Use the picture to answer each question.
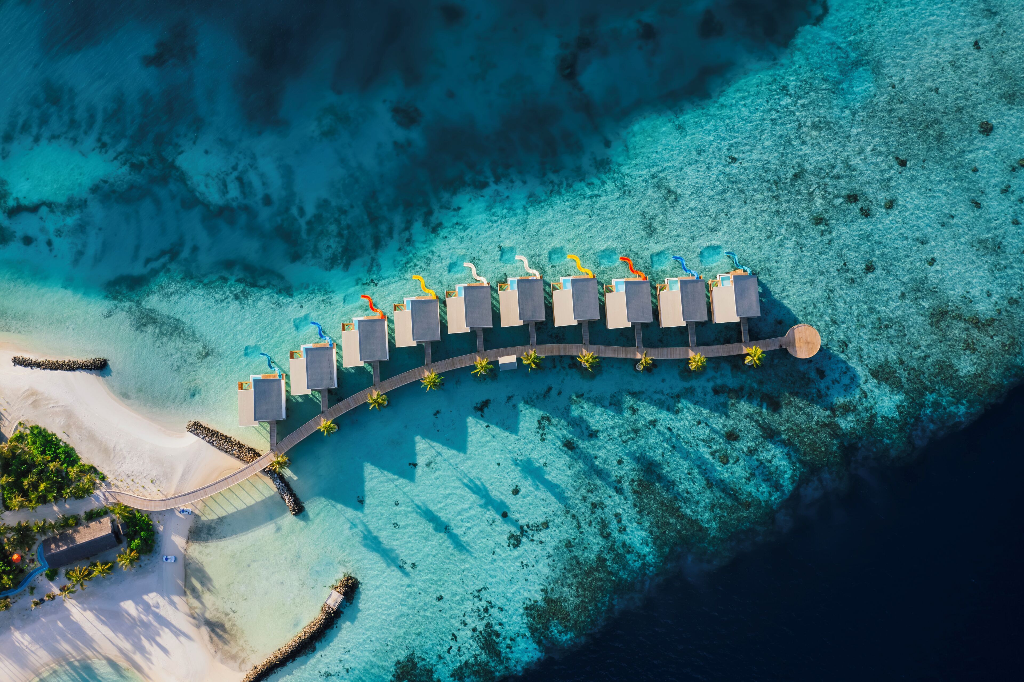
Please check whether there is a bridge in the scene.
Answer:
No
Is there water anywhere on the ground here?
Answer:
Yes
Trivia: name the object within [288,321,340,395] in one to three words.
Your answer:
house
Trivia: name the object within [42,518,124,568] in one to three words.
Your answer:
building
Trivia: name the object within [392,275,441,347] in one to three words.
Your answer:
house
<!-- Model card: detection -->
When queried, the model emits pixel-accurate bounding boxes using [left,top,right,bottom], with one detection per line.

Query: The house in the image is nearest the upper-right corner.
[709,251,761,323]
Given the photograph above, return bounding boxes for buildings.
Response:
[709,251,761,323]
[497,255,546,327]
[657,256,708,328]
[340,294,391,367]
[237,352,289,427]
[551,255,600,327]
[288,321,340,395]
[444,262,493,334]
[42,518,124,568]
[392,275,441,347]
[603,257,653,329]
